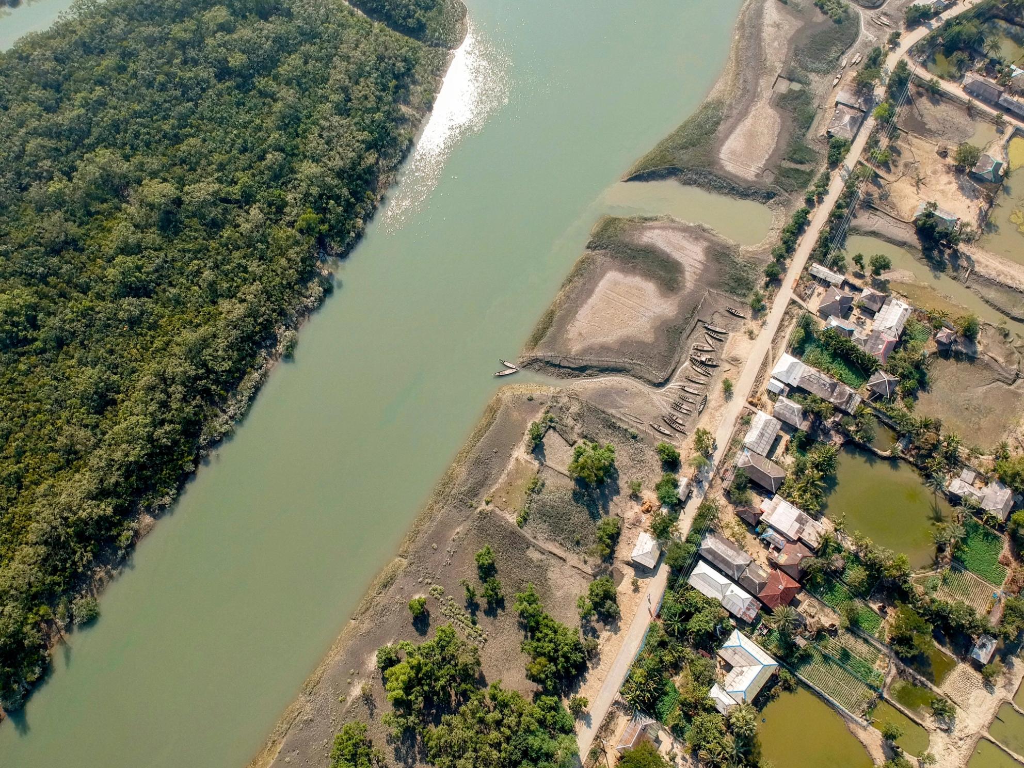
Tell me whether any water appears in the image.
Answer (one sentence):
Yes, there's water in this view.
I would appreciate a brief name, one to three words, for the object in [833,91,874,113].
shed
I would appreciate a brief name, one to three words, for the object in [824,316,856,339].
house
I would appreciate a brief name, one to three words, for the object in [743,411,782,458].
house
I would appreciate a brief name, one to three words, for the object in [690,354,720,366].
boat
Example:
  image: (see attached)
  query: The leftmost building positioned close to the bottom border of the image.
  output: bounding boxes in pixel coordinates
[615,712,660,759]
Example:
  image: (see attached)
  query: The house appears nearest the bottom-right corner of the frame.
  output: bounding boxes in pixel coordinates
[966,634,998,664]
